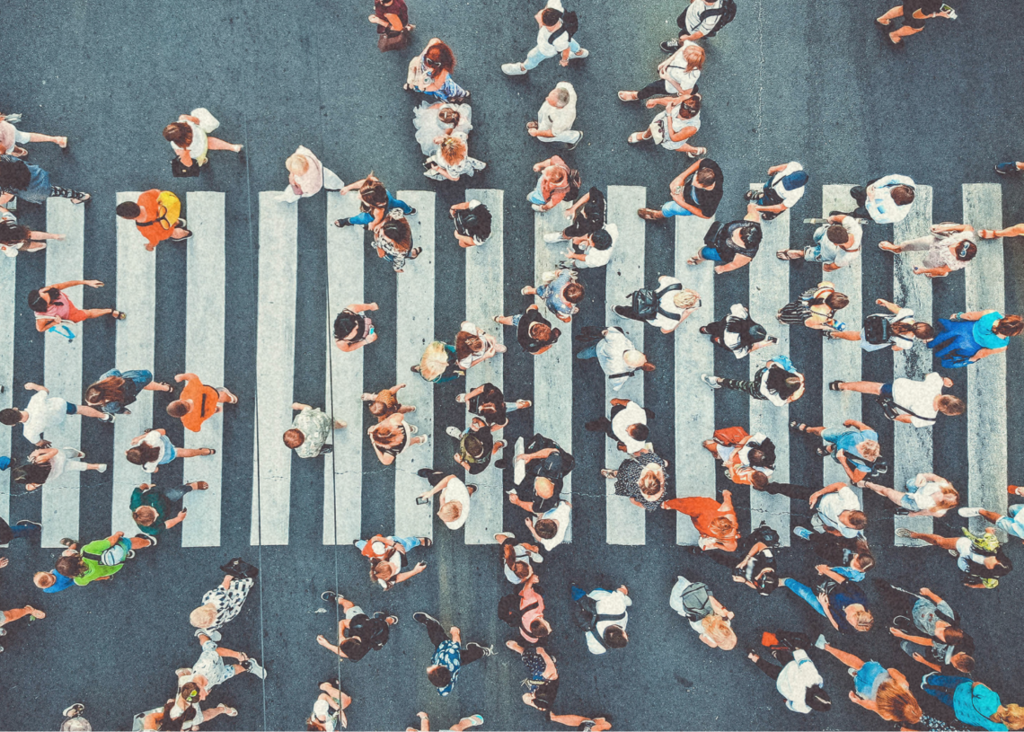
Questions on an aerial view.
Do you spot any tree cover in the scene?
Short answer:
No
